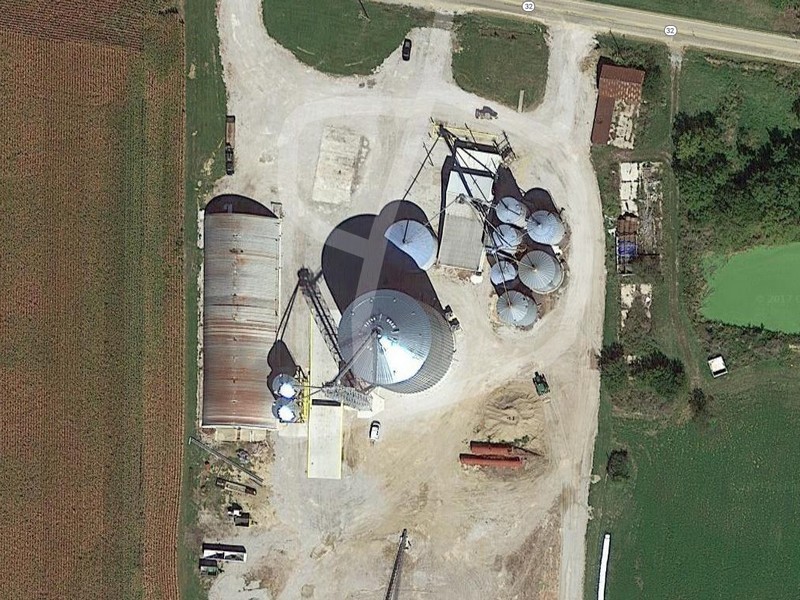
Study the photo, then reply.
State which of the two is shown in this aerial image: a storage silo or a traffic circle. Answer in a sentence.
Looking from above, you can make out a storage silo.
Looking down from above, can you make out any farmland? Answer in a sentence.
Yes, the picture does contain farmland.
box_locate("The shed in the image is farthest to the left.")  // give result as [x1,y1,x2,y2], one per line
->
[204,214,280,430]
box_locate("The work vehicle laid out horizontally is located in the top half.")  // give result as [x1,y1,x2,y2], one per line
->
[474,109,498,122]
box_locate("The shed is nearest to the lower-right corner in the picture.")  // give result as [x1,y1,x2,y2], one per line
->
[708,355,729,379]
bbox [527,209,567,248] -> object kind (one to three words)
silo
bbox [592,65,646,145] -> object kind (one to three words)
shed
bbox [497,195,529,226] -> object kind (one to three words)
silo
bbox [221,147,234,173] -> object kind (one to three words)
vehicle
